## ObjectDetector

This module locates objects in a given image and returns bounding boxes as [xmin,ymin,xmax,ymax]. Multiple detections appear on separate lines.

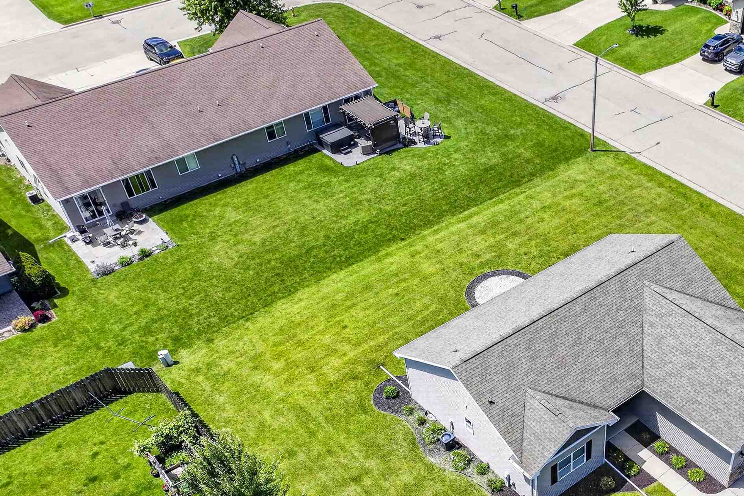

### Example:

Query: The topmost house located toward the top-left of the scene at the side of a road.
[0,9,378,230]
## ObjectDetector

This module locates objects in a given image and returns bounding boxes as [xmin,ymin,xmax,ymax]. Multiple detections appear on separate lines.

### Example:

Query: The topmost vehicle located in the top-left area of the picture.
[141,29,180,62]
